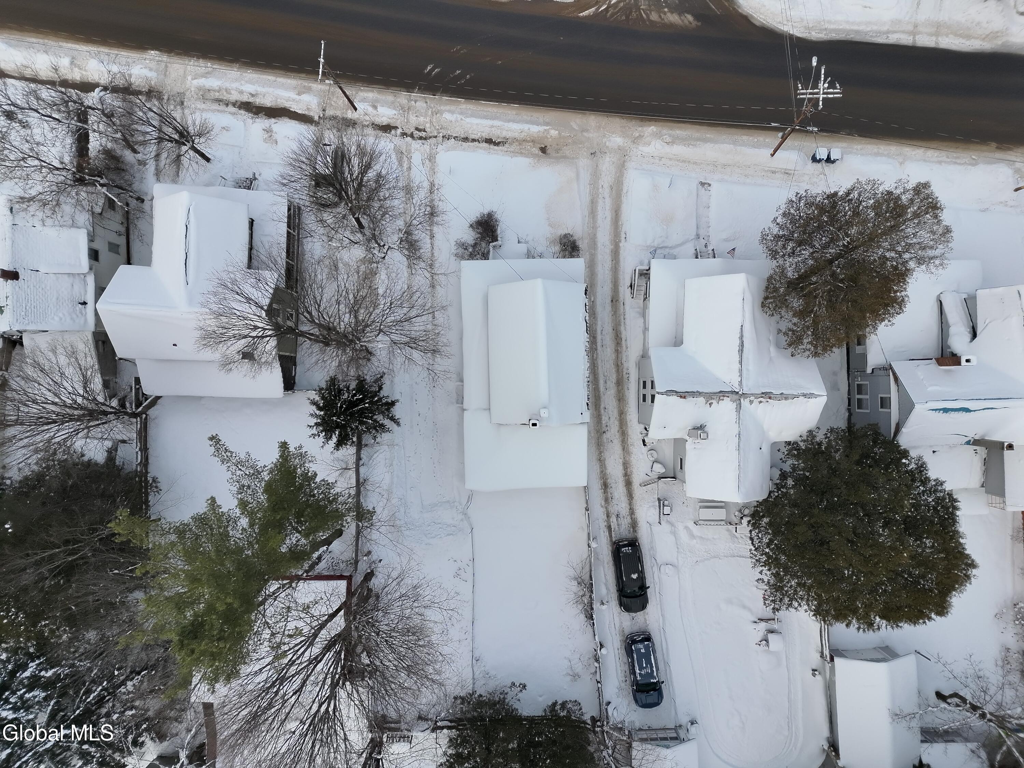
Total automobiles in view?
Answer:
2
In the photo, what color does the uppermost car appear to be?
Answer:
black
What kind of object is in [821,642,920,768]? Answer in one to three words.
building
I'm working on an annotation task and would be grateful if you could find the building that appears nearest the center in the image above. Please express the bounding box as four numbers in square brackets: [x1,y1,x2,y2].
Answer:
[461,258,591,490]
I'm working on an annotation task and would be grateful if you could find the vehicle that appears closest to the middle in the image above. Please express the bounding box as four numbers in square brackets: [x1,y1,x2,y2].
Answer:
[614,537,656,614]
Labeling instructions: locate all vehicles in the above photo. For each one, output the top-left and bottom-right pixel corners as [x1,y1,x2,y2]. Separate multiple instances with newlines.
[614,537,656,614]
[624,630,665,707]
